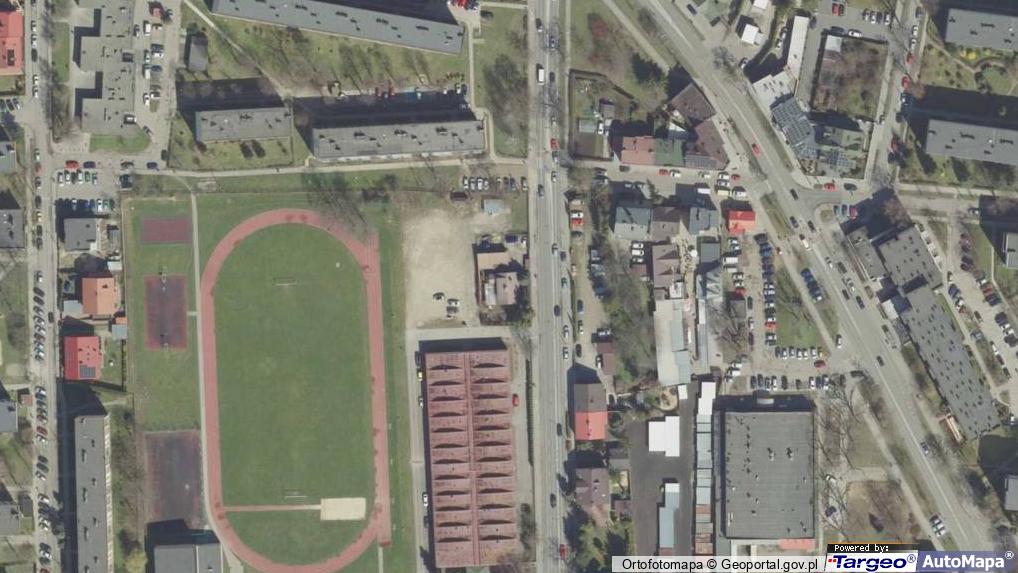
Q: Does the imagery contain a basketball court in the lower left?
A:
Yes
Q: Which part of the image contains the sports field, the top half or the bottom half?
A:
bottom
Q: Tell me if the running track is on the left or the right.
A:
left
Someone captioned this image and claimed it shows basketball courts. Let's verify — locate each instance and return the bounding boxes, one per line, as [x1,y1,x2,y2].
[144,275,187,349]
[139,217,191,245]
[143,430,204,545]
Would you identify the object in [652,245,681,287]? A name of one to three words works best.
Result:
house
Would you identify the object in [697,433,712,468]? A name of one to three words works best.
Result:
building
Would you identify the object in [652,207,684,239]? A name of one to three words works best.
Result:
house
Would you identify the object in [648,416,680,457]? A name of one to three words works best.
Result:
shed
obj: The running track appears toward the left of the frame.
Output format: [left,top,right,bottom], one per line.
[200,210,391,573]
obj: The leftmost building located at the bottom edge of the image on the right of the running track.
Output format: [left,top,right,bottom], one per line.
[425,350,519,567]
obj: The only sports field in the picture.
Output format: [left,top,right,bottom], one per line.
[213,223,375,564]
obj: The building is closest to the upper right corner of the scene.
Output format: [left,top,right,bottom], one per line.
[944,9,1018,55]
